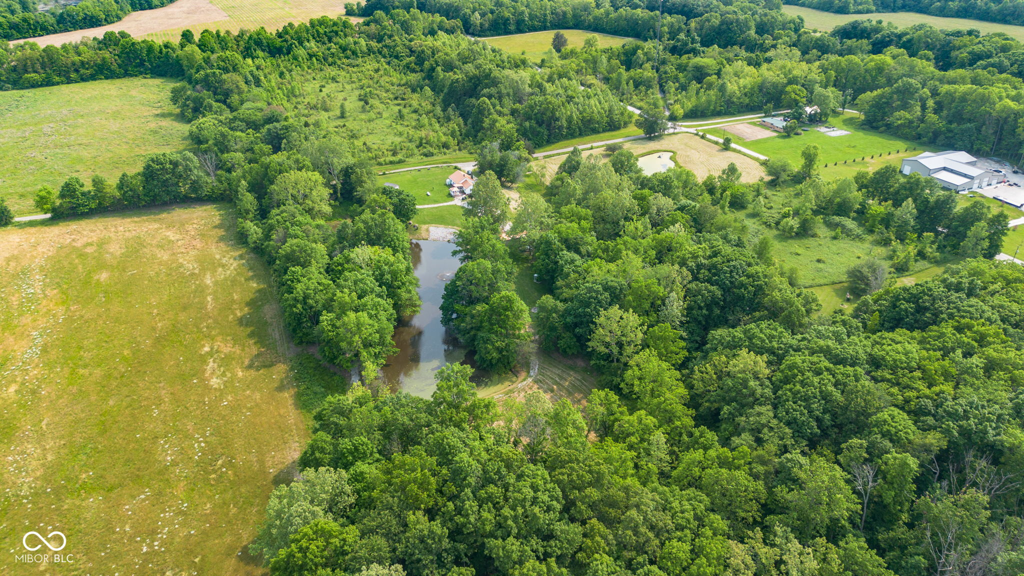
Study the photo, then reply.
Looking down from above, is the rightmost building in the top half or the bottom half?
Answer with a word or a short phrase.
top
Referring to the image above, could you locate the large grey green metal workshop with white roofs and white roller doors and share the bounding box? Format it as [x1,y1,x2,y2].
[900,149,1006,193]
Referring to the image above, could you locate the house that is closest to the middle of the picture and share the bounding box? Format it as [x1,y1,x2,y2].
[447,169,477,200]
